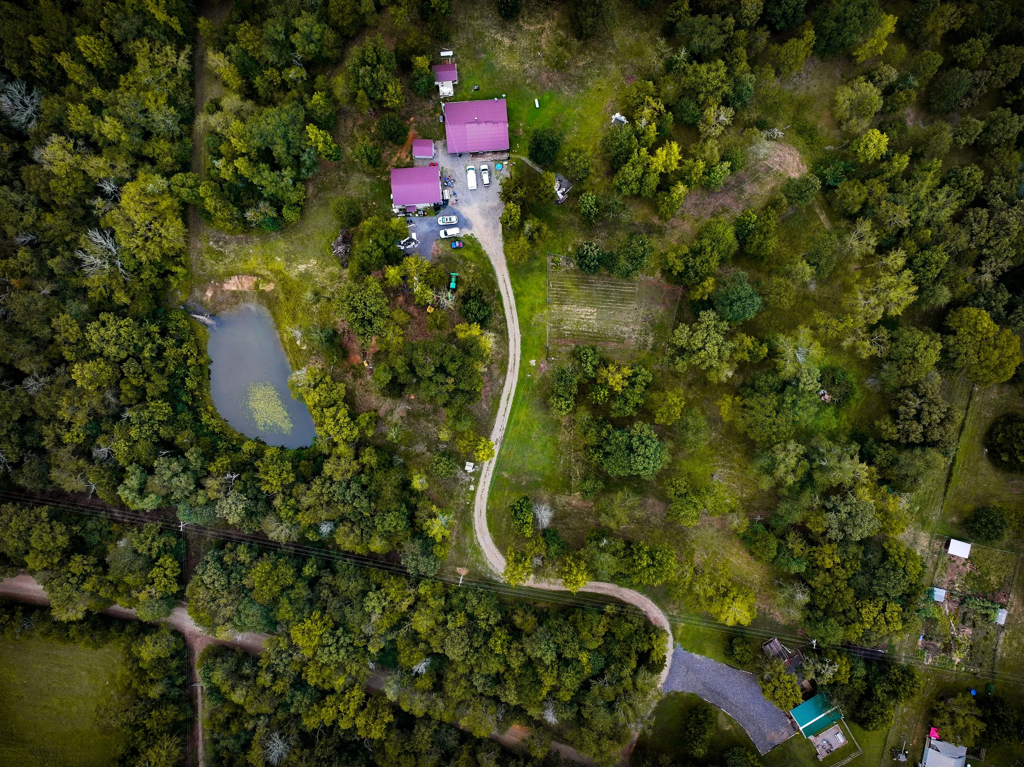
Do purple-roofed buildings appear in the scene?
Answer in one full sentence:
Yes, there is a purple-roofed building in the image.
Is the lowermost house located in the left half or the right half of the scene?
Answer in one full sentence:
The lowermost house appears in the right half of the scene.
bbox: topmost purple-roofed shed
[433,64,459,90]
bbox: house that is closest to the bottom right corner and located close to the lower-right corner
[915,736,967,767]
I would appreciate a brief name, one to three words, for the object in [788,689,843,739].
house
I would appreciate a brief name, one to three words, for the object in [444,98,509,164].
house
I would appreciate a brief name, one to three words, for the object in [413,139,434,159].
shed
